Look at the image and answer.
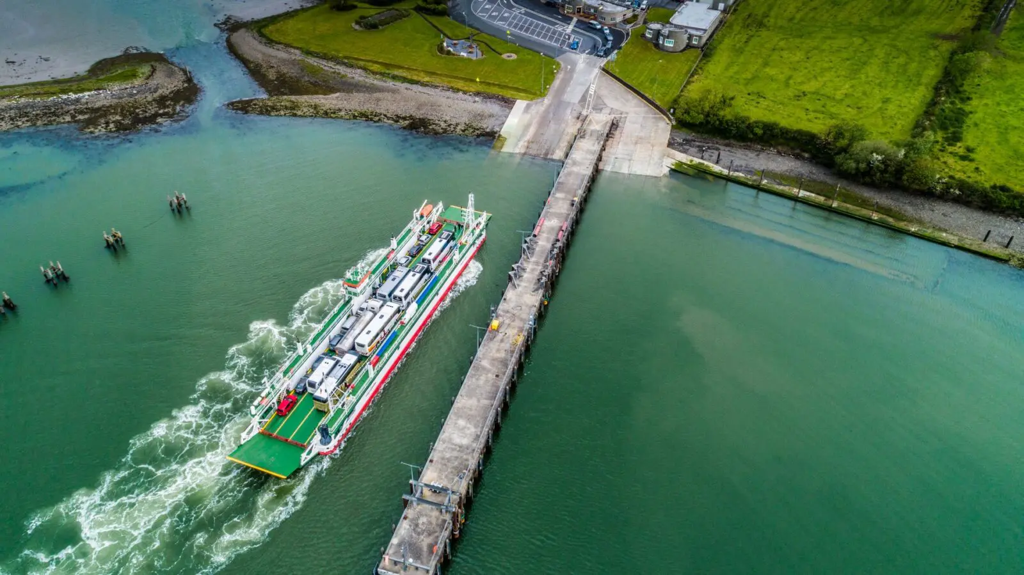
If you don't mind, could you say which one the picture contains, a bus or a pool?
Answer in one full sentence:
There is a bus in the scene.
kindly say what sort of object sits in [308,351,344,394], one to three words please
bus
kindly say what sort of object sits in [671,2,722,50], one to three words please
building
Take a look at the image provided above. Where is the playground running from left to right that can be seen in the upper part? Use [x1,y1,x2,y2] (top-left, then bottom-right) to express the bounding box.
[437,38,485,59]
